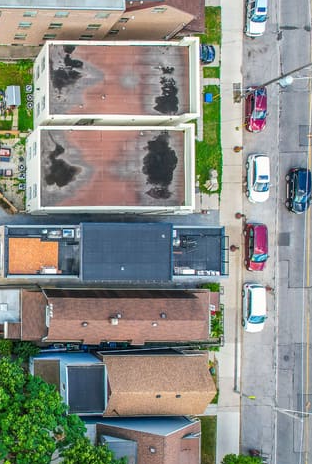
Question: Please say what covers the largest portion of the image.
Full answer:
Most of the picture is covered by buildings.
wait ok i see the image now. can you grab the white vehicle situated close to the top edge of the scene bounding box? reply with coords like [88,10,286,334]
[241,0,269,37]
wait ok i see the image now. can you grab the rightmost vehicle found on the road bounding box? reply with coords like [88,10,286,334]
[282,168,310,213]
